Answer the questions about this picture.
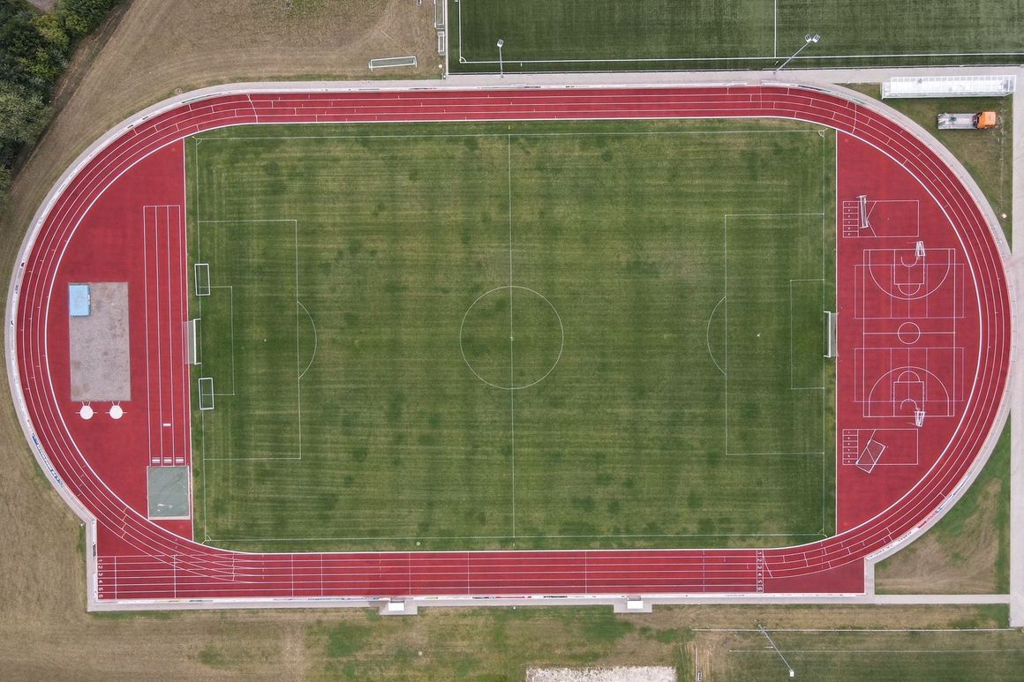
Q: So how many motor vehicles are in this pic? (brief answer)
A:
one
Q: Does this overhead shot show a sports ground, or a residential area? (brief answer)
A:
sports ground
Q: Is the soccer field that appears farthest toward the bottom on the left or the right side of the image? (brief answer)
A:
right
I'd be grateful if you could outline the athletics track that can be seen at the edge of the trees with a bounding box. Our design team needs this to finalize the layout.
[16,84,1012,602]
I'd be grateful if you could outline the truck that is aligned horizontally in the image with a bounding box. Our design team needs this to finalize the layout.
[937,109,994,130]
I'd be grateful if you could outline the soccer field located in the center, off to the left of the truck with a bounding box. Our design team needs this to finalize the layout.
[185,117,836,553]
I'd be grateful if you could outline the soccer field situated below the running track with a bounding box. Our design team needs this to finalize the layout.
[717,630,1024,682]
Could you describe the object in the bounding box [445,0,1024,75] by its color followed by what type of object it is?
green soccer field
